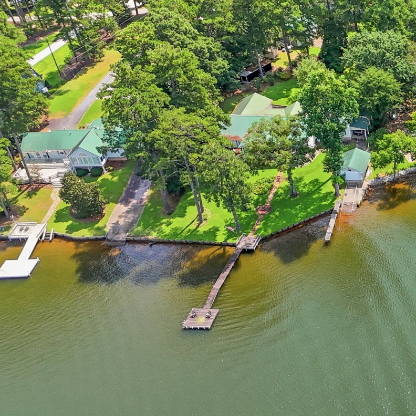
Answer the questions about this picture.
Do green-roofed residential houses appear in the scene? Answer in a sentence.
Yes, the photo shows a green-roofed residential house.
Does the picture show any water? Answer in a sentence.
Yes, there is water in the image.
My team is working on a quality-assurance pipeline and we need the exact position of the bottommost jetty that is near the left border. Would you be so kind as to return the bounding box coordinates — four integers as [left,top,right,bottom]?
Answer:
[0,221,44,279]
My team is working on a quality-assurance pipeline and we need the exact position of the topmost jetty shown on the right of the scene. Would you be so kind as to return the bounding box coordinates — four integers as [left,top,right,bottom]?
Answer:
[320,197,344,244]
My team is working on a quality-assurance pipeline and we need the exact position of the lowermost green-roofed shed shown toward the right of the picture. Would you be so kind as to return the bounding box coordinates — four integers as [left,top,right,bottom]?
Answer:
[339,146,372,190]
